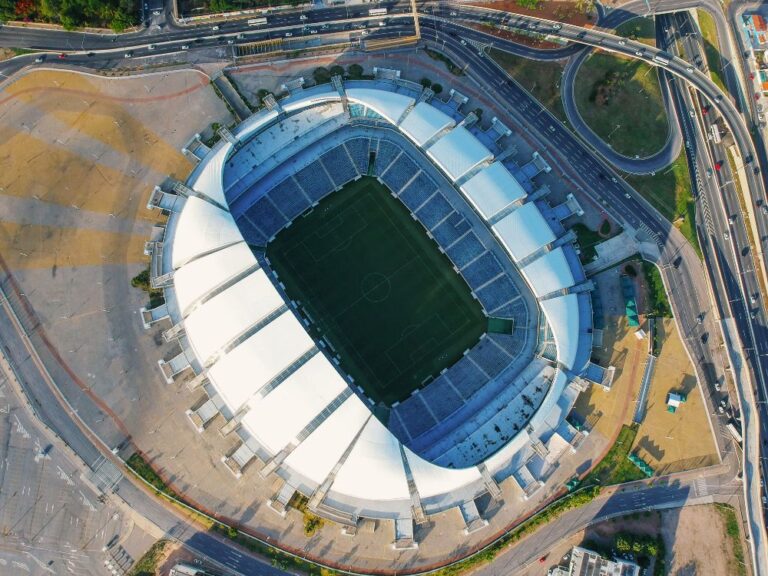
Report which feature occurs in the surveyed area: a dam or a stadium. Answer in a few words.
stadium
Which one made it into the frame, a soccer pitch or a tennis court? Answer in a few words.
soccer pitch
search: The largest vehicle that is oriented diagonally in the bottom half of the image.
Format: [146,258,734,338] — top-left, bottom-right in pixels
[723,424,741,442]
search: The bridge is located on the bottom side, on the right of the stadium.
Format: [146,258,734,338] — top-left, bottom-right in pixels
[697,214,768,576]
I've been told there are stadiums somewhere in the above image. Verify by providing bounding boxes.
[140,67,616,549]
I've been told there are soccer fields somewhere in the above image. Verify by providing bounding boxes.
[265,175,489,409]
